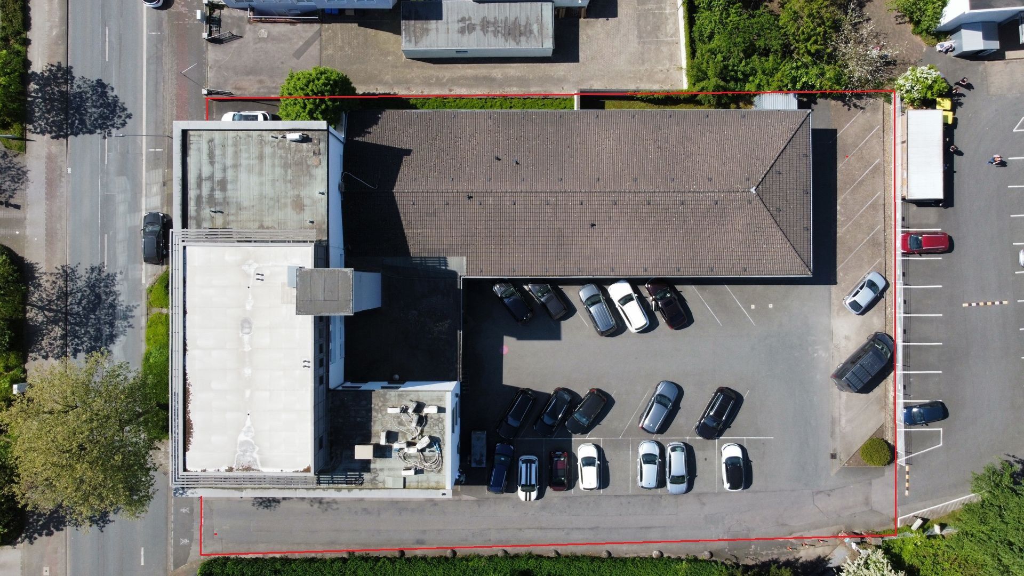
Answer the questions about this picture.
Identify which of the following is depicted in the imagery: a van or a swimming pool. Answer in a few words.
van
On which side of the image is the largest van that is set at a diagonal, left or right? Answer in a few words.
right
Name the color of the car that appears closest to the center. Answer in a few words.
black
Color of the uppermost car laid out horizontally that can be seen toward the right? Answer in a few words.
red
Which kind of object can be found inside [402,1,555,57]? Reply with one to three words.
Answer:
building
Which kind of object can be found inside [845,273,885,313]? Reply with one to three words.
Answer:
car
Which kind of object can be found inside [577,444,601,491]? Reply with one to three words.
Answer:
car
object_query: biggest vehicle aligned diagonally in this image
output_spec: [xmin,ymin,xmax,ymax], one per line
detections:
[836,334,894,393]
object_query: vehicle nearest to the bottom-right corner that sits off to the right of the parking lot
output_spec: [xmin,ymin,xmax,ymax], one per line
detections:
[903,400,948,426]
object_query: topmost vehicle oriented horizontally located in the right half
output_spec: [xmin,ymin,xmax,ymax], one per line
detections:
[900,230,952,255]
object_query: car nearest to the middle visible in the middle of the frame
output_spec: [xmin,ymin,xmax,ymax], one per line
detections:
[495,281,531,325]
